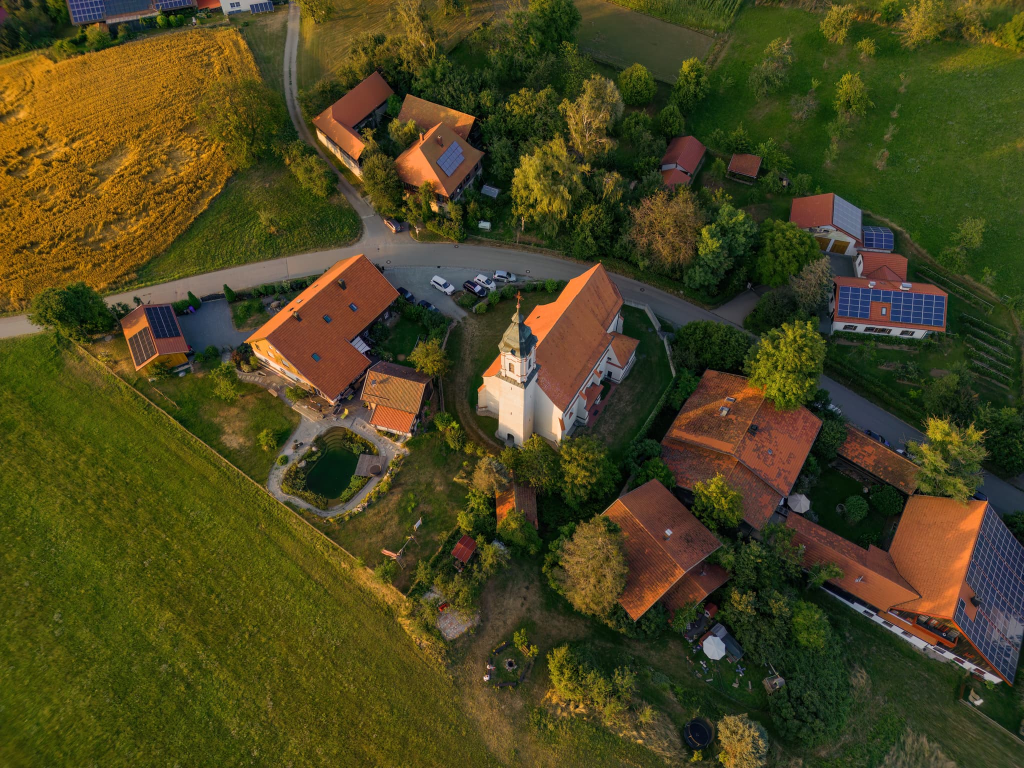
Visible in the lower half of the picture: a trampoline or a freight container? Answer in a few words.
trampoline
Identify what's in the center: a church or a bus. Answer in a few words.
church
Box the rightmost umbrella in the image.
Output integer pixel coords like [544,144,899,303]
[787,495,809,515]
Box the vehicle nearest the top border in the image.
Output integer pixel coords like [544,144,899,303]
[382,214,404,232]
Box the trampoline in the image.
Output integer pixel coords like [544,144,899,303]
[684,714,718,753]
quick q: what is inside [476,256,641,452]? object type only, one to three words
church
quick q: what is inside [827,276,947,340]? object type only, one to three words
house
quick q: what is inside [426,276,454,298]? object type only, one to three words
car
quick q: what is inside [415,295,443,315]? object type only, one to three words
car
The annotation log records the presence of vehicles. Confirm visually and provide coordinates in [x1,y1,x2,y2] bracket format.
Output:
[426,276,454,298]
[828,394,852,420]
[382,214,404,232]
[964,482,1003,513]
[185,337,198,359]
[415,295,443,315]
[491,269,517,283]
[473,273,498,292]
[460,279,488,298]
[392,283,417,305]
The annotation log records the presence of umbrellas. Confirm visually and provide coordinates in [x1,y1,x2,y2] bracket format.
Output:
[787,495,809,515]
[702,637,724,660]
